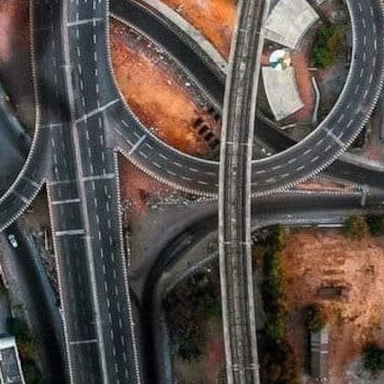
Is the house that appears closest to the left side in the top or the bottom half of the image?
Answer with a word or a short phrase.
bottom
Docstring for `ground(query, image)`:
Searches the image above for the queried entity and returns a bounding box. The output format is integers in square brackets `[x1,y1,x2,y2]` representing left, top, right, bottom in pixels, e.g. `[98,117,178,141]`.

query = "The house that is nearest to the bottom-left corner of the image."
[0,332,27,384]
